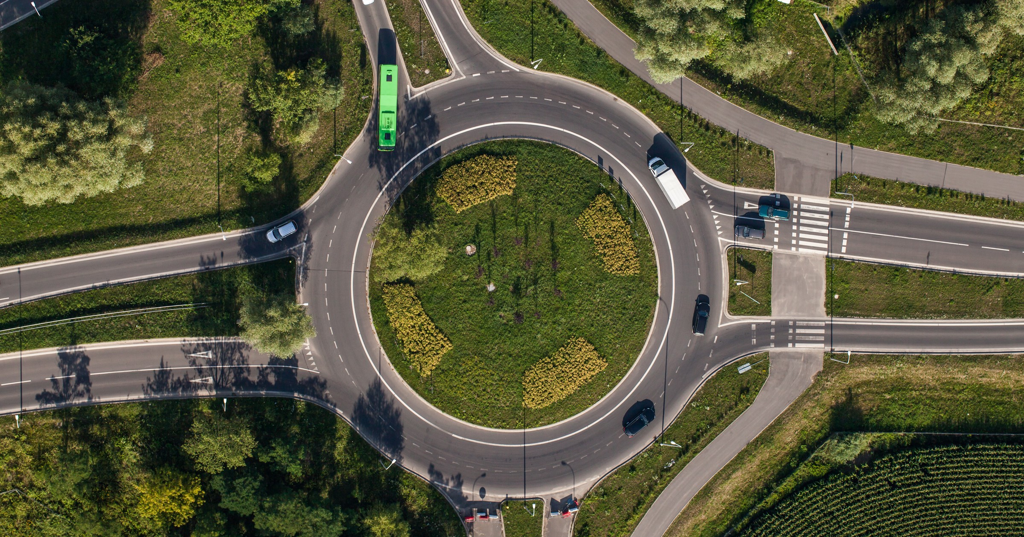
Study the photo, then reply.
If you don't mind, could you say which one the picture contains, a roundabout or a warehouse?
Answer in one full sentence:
It is a roundabout that can be seen here.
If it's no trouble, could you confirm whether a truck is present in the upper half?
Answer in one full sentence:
Yes, you'll find a truck in the upper half.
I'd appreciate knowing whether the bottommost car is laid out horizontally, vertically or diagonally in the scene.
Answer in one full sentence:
The bottommost car runs diagonally in the image.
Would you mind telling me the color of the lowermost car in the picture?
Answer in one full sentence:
In this view, the lowermost car is black.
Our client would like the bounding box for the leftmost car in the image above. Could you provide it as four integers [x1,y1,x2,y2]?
[265,220,299,243]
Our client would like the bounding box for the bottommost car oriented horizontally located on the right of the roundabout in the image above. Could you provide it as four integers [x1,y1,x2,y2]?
[735,225,765,240]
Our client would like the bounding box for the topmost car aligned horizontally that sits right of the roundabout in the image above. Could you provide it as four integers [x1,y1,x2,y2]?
[758,203,791,219]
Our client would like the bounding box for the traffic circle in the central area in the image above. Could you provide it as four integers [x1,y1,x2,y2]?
[302,72,725,496]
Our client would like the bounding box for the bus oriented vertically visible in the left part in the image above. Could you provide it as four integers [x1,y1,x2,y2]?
[376,64,398,153]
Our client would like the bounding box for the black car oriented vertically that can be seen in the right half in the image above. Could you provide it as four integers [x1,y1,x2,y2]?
[693,301,711,336]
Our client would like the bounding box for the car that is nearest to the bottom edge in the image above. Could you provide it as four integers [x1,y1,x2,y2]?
[623,408,655,434]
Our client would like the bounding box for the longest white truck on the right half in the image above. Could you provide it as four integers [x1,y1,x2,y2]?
[649,156,691,209]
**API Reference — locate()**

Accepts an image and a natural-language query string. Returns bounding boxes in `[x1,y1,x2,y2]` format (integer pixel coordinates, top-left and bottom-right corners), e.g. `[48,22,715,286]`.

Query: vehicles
[623,408,655,434]
[649,156,691,209]
[265,220,299,243]
[735,225,765,240]
[376,64,398,153]
[758,203,791,219]
[693,301,711,336]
